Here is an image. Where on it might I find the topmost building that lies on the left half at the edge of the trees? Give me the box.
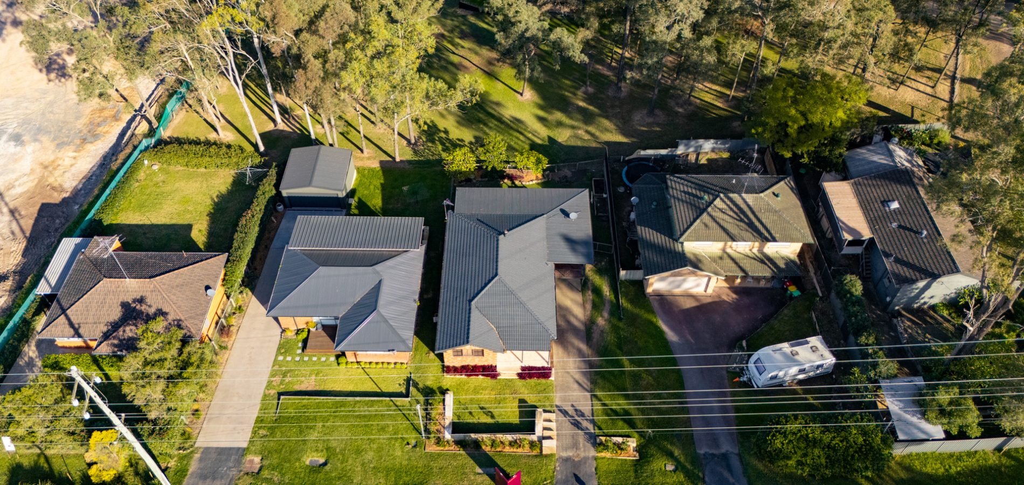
[280,144,355,210]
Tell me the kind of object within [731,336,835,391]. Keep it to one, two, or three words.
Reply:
camper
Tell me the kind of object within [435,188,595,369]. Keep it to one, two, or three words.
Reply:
house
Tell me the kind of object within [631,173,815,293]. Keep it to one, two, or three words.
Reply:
house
